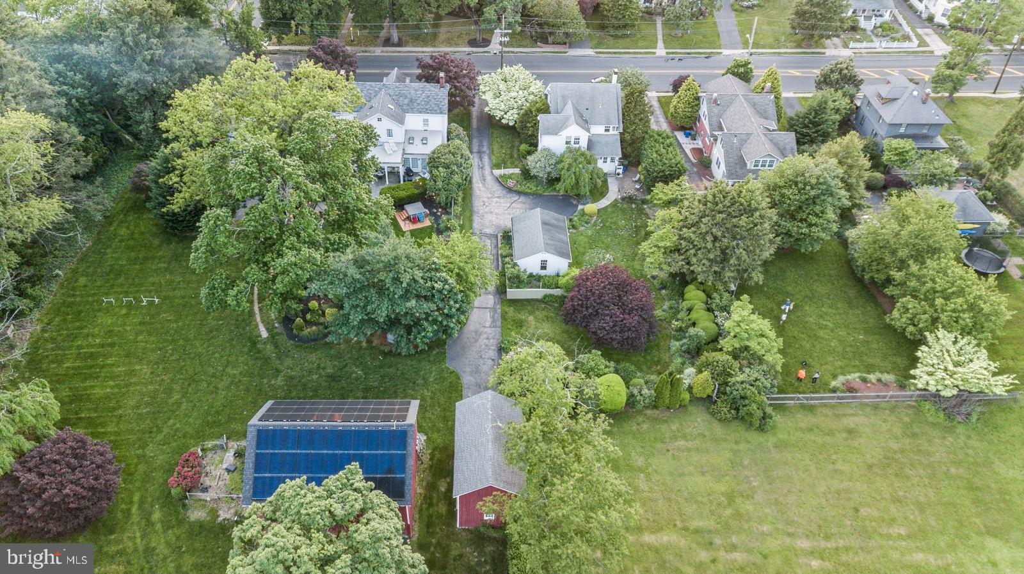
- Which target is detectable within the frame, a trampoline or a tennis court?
trampoline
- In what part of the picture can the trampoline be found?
right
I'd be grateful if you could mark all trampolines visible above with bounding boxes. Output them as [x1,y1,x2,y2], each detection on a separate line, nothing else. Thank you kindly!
[964,232,1012,276]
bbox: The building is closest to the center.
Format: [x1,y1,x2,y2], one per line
[511,205,571,281]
